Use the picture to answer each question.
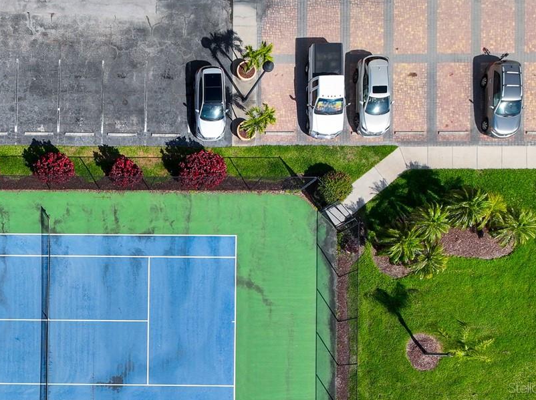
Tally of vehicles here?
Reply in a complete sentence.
Altogether the scene contains 4 vehicles.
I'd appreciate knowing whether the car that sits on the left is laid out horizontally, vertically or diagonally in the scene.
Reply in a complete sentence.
From this overhead view, the car that sits on the left appears to run vertically.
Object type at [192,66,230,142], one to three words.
car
